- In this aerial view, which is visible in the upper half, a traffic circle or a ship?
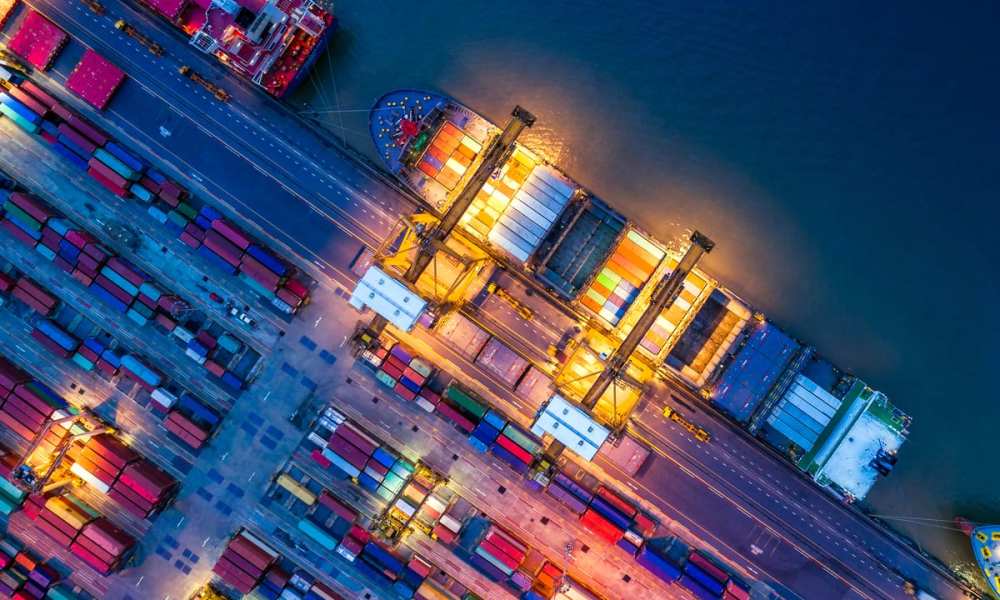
ship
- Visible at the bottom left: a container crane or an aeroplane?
container crane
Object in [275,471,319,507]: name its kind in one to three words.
shipping container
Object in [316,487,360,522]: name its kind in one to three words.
shipping container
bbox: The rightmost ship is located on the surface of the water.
[941,517,1000,598]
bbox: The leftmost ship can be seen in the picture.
[145,0,337,98]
